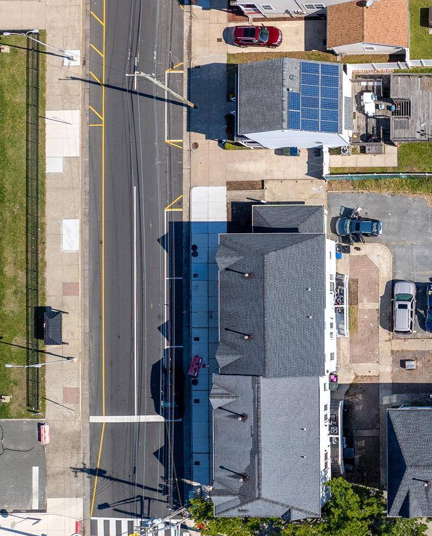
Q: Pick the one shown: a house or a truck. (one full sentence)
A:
There is a house in the scene.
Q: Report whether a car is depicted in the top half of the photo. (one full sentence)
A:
Yes, the scene does show a car in the top half of the photo.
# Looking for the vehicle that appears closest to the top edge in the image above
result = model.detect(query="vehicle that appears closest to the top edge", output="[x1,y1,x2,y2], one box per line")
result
[232,23,286,50]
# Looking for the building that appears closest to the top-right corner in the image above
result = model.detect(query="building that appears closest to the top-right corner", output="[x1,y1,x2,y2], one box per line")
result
[325,0,411,60]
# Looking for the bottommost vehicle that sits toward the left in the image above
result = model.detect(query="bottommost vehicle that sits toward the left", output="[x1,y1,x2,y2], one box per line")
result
[157,356,185,408]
